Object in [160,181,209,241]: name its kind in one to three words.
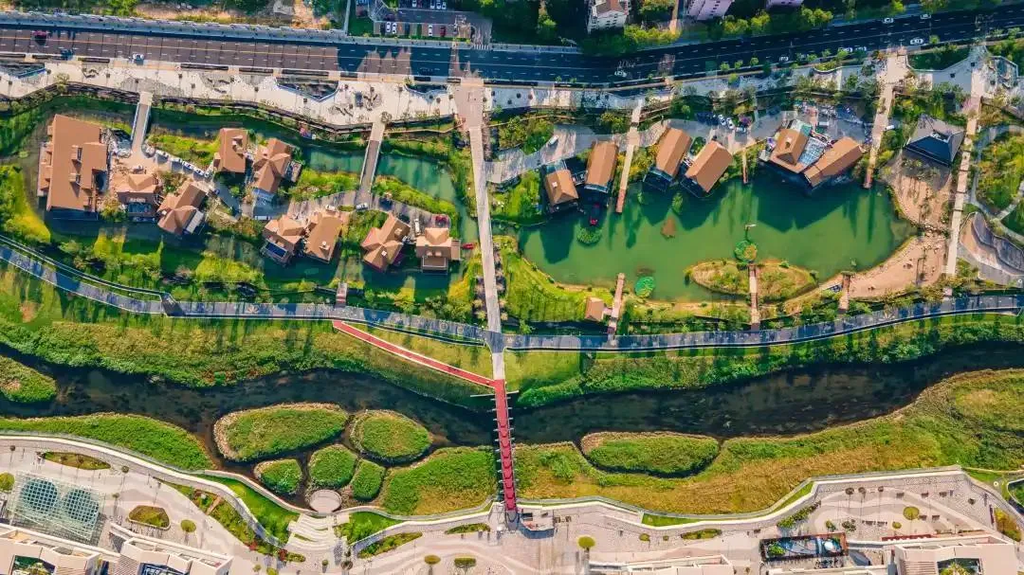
house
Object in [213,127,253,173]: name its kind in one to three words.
house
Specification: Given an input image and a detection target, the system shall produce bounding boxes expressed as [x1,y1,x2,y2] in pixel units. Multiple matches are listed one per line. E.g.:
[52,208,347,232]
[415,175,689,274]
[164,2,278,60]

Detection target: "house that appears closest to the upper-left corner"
[38,114,115,220]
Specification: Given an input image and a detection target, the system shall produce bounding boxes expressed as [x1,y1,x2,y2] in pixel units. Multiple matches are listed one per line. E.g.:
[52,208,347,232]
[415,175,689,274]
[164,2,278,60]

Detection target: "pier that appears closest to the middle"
[608,274,625,335]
